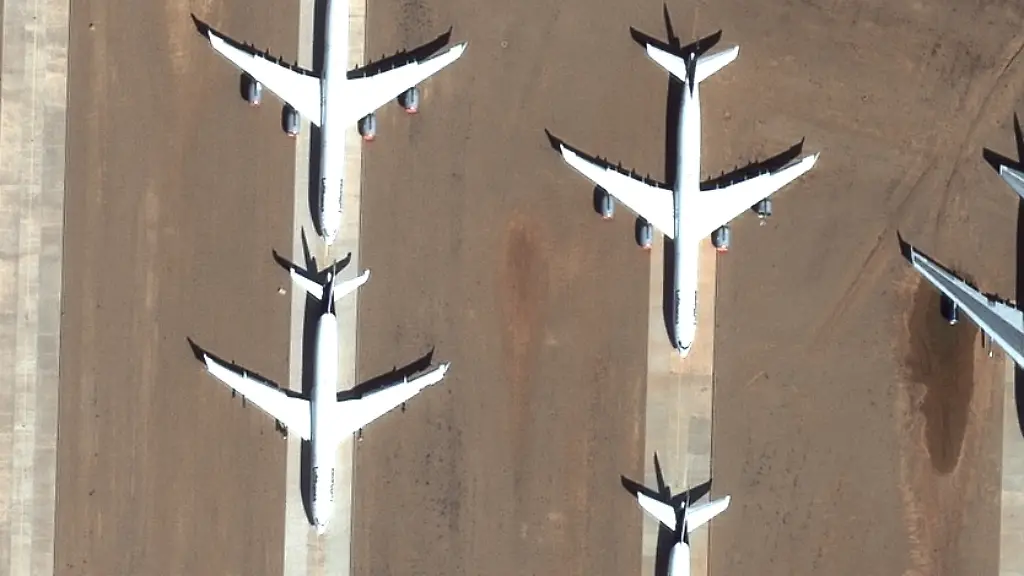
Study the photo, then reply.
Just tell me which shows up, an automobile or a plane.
plane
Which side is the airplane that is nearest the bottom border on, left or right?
right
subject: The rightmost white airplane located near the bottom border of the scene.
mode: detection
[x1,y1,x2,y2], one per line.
[640,487,731,576]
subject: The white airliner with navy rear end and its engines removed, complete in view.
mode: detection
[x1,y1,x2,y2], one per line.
[204,263,449,535]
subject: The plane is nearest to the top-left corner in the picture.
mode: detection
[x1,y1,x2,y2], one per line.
[208,0,466,244]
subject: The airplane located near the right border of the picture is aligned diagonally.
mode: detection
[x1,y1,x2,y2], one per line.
[912,245,1024,369]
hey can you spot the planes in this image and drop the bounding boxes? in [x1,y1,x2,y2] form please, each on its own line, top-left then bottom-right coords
[912,245,1024,369]
[204,263,449,535]
[208,0,466,244]
[640,487,731,576]
[562,38,819,358]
